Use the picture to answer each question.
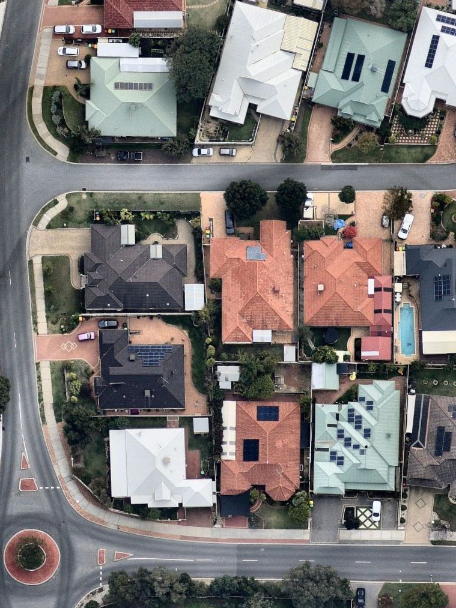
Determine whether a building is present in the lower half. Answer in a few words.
Yes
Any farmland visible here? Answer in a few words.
No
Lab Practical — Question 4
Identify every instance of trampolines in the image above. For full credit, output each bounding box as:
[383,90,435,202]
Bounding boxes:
[327,327,342,345]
